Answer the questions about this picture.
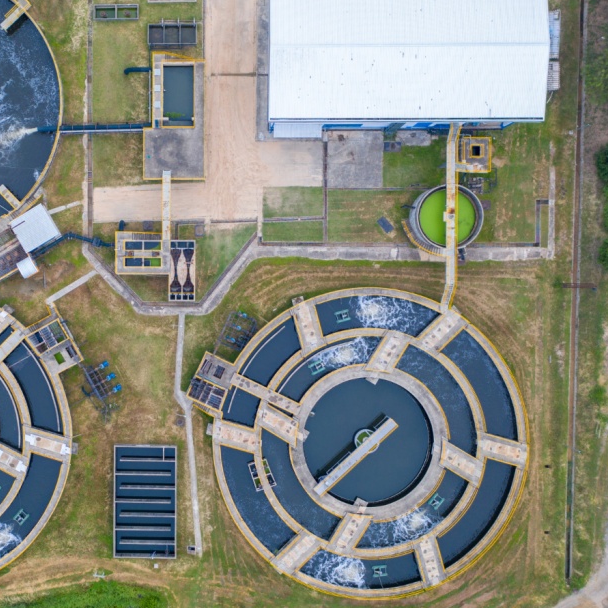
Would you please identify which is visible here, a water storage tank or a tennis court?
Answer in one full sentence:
There is a water storage tank in the scene.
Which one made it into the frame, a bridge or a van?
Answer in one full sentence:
The image shows a bridge.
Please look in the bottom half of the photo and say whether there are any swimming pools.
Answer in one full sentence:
No, no swimming pool is visible in the bottom half of the photo.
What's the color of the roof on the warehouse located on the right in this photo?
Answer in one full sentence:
The roof of the warehouse located on the right is white.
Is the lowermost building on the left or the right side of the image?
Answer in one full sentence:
The lowermost building sits on the left side.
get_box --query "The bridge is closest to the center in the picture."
[292,295,326,352]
